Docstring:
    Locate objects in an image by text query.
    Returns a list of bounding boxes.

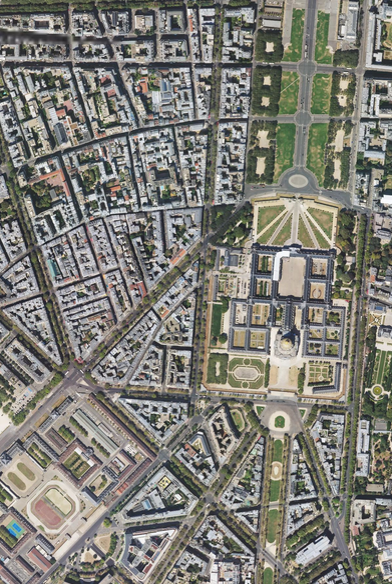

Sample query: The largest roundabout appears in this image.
[279,167,321,191]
